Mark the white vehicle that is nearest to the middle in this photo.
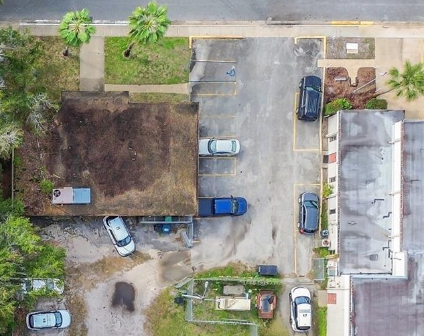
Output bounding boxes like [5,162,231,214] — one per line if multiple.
[199,137,239,158]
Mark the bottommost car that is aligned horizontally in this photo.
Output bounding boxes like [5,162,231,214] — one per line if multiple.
[25,309,70,331]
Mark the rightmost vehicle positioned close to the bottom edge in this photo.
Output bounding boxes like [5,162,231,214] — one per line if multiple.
[287,286,312,332]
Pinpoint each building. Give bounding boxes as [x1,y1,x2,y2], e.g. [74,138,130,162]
[325,109,424,336]
[19,91,199,216]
